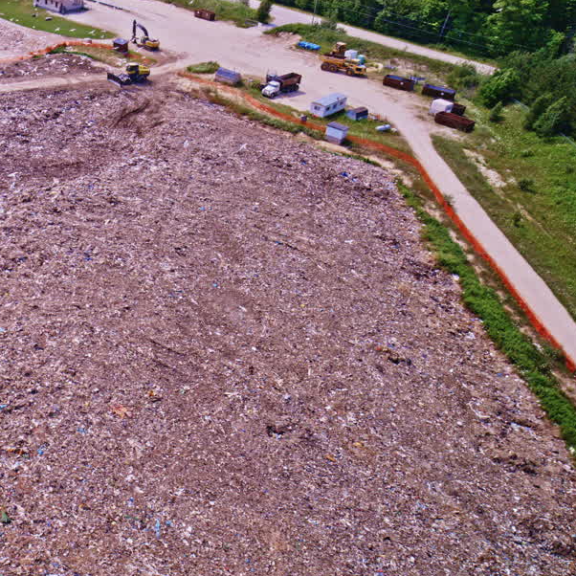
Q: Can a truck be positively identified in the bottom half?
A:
No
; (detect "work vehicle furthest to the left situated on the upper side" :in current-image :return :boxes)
[135,14,167,55]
